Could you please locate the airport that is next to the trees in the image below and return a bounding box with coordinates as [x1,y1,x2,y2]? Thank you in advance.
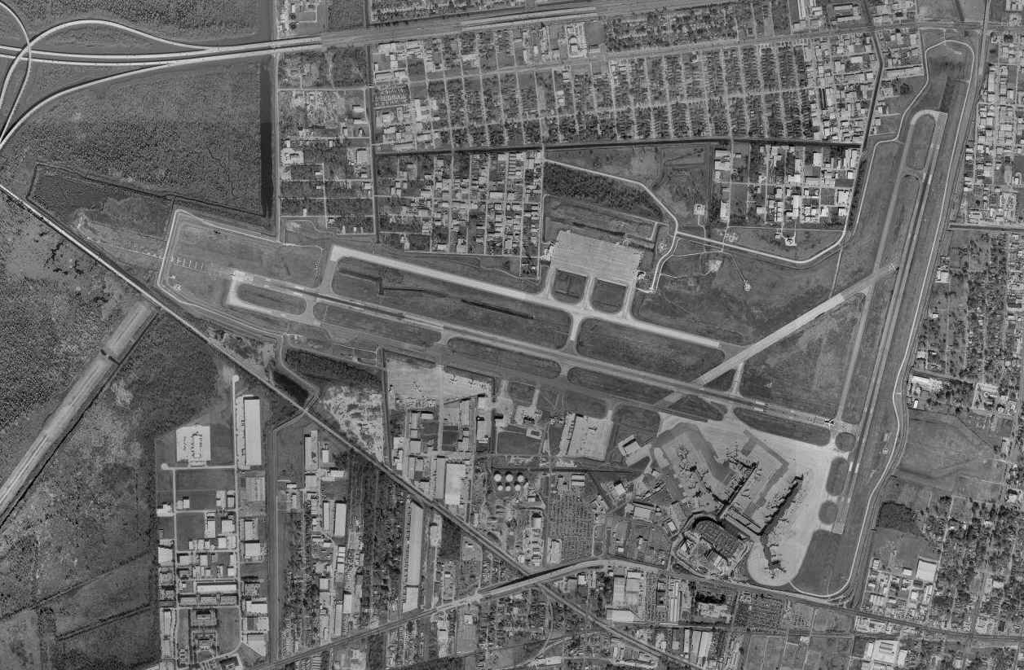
[110,42,966,596]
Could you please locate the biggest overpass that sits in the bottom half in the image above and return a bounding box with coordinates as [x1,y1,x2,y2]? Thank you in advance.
[478,563,575,599]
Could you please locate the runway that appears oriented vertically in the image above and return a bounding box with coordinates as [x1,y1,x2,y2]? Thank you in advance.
[832,111,948,534]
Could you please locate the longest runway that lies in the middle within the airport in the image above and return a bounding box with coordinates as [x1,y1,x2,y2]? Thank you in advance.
[231,269,859,433]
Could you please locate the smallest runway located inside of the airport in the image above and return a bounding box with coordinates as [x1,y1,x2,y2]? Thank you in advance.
[650,262,898,413]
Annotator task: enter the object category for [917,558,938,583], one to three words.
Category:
building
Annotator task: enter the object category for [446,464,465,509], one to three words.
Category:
building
